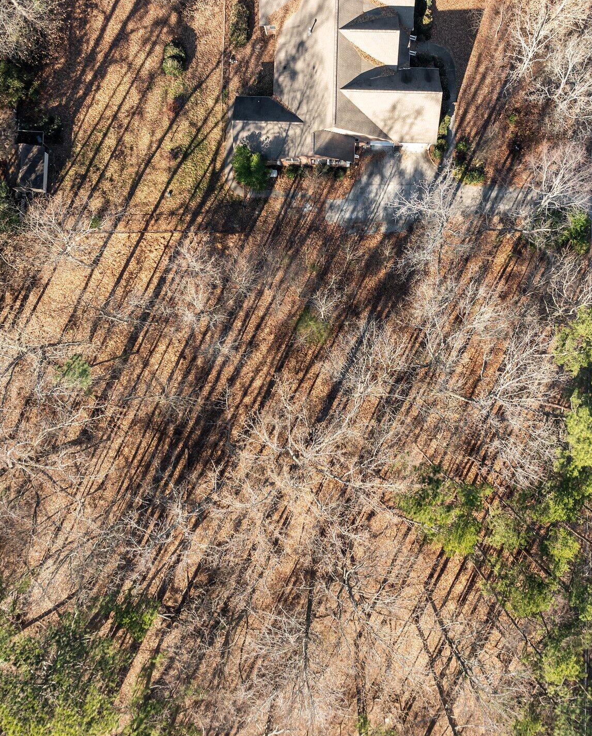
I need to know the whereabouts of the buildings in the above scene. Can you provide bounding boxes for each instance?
[17,122,61,225]
[231,0,442,170]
